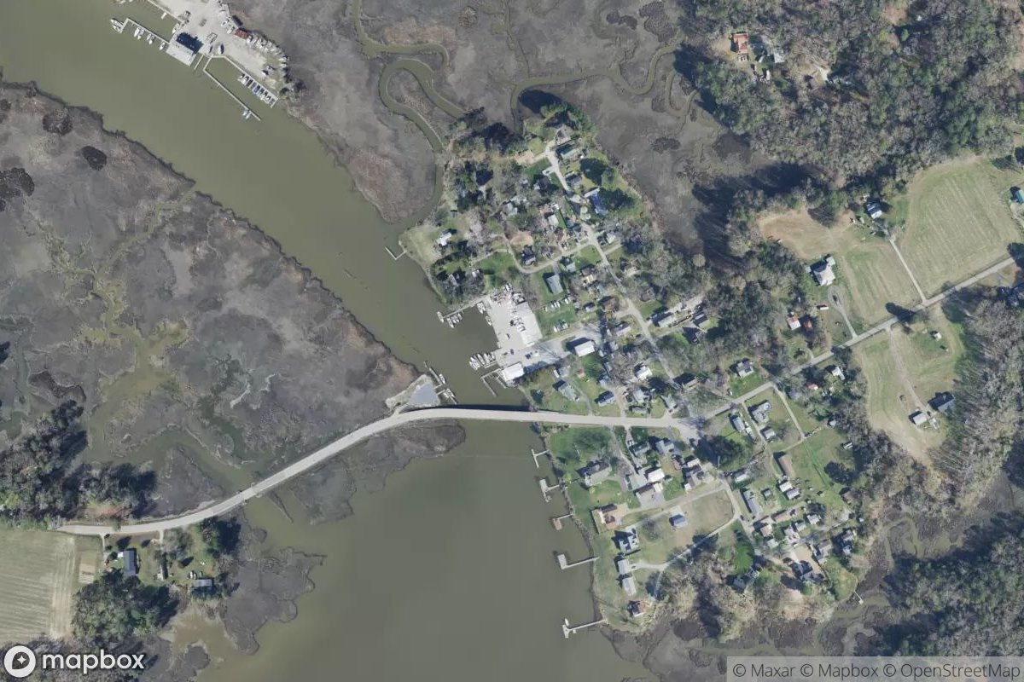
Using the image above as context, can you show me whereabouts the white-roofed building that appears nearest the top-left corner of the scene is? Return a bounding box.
[165,39,197,67]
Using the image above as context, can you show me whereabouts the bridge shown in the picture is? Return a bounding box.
[412,409,529,422]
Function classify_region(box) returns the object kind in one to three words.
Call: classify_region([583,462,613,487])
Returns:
house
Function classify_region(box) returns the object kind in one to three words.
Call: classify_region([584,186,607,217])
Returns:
house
